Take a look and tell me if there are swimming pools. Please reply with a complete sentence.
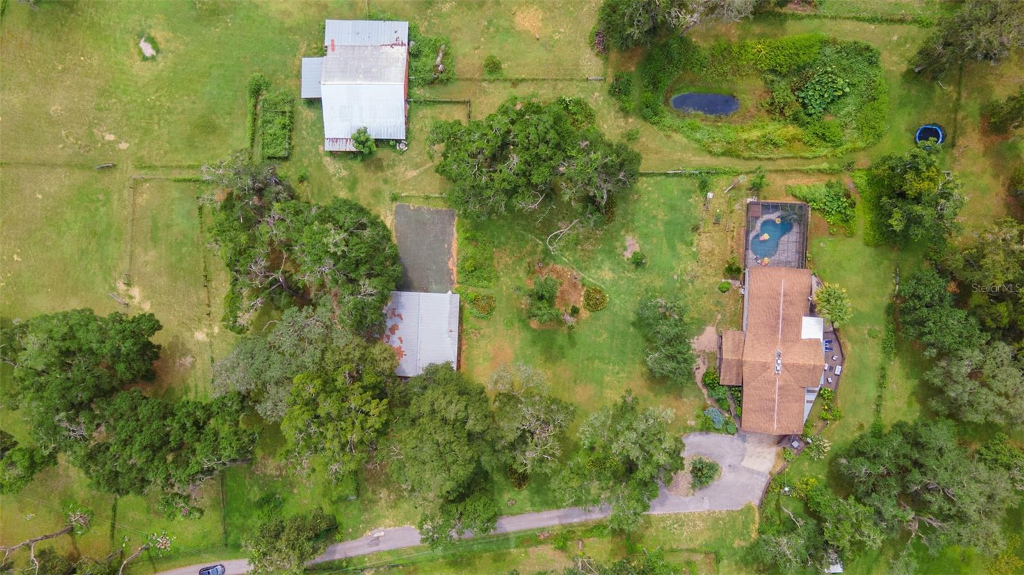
Yes, a swimming pool is visible in the scene.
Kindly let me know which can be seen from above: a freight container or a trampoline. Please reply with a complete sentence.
The image shows a trampoline.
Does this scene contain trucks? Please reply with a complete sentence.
No, I find no truck anywhere in the image.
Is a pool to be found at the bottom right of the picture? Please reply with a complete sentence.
No, I can find no pool at the bottom right of the picture.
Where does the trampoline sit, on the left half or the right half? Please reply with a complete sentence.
You can find the trampoline on the right side of the picture.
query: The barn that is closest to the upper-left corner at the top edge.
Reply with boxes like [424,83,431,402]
[301,20,410,152]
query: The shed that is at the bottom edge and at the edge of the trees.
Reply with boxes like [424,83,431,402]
[821,548,843,573]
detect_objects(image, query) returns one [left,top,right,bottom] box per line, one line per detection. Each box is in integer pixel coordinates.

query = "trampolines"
[913,119,950,147]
